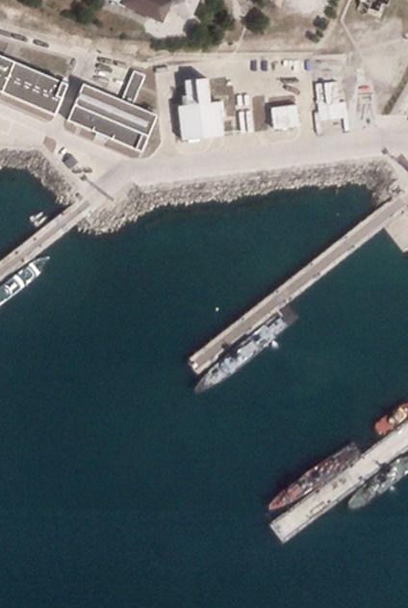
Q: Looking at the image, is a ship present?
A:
Yes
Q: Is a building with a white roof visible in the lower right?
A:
No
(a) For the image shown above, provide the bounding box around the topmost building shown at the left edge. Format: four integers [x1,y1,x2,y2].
[0,55,69,118]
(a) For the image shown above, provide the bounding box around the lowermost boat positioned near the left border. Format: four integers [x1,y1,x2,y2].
[0,259,46,307]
